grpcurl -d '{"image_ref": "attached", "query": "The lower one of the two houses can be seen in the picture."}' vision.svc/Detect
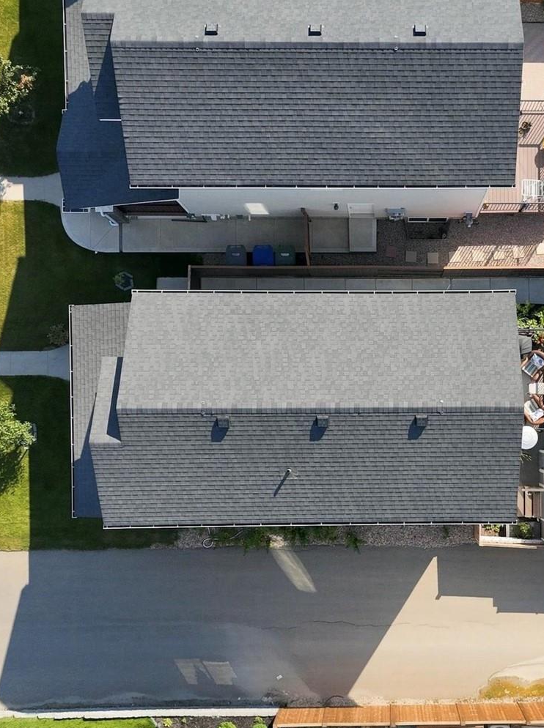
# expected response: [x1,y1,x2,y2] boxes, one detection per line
[64,286,525,532]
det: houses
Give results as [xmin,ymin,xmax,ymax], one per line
[64,286,525,532]
[57,0,523,252]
